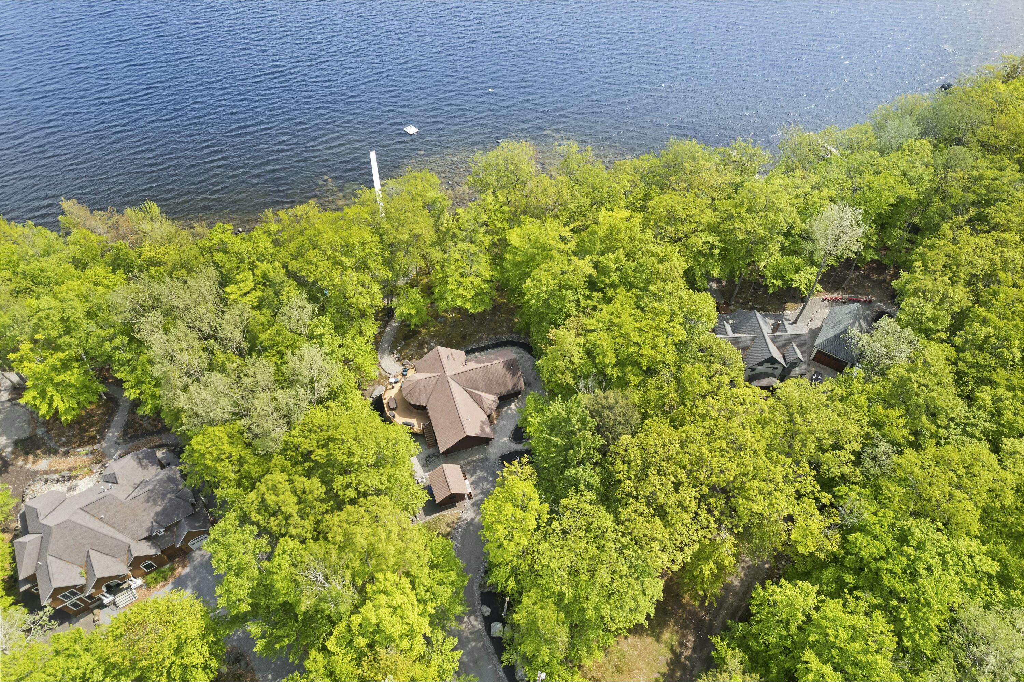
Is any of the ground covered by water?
Yes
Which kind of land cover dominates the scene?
trees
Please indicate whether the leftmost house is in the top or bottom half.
bottom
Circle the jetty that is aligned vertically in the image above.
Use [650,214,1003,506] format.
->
[369,148,386,217]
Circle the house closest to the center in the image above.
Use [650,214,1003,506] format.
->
[382,347,524,459]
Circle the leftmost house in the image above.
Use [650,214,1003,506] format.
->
[14,448,214,617]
